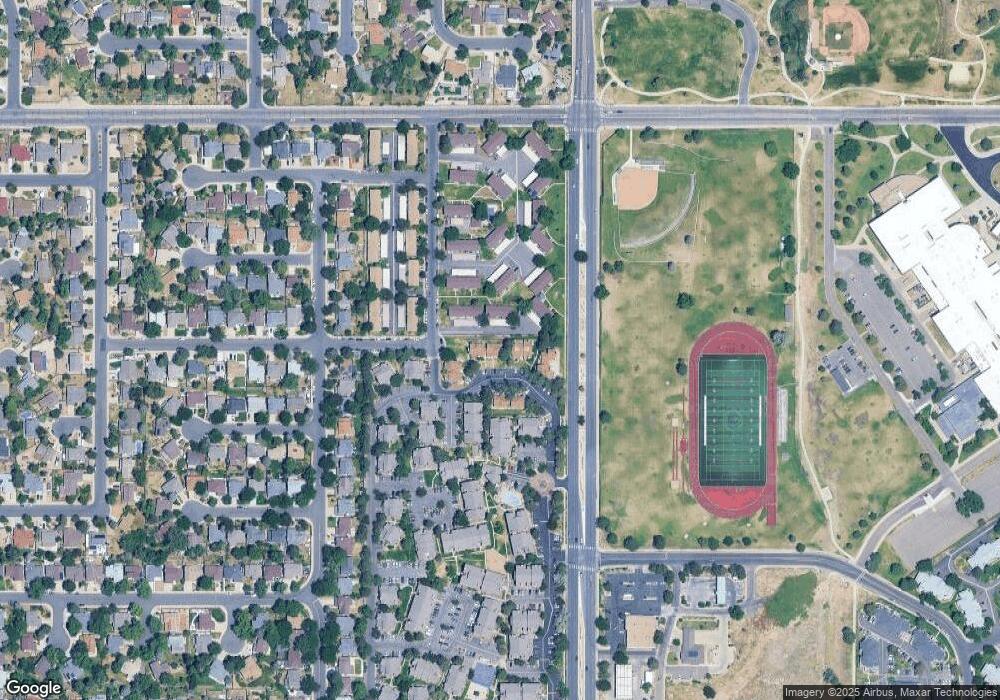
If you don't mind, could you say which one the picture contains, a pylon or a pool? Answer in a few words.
pool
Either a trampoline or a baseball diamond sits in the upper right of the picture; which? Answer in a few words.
baseball diamond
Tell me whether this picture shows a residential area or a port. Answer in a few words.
residential area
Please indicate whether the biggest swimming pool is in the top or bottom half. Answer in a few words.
bottom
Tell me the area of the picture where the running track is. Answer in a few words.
right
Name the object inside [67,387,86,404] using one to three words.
house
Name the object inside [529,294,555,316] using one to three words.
building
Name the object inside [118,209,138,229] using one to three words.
house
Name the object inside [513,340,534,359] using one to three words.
building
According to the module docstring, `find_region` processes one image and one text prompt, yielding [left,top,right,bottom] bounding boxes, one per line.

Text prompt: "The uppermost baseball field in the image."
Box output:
[810,0,870,62]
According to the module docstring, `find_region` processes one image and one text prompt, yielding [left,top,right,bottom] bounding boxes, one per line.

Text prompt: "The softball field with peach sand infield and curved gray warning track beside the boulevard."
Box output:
[612,143,726,262]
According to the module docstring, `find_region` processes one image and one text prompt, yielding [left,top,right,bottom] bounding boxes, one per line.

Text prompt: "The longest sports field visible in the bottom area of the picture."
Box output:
[699,354,767,486]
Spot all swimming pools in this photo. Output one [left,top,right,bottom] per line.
[499,483,527,513]
[484,203,497,219]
